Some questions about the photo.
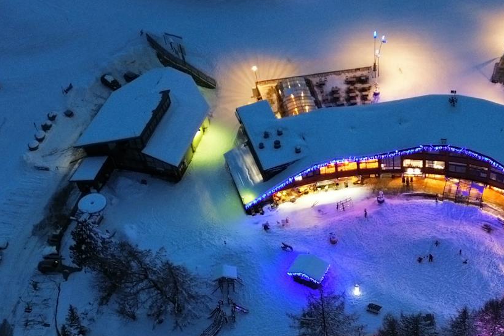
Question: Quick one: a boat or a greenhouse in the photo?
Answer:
greenhouse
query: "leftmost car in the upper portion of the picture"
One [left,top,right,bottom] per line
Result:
[99,70,122,87]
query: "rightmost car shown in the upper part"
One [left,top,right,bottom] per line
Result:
[122,68,144,80]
